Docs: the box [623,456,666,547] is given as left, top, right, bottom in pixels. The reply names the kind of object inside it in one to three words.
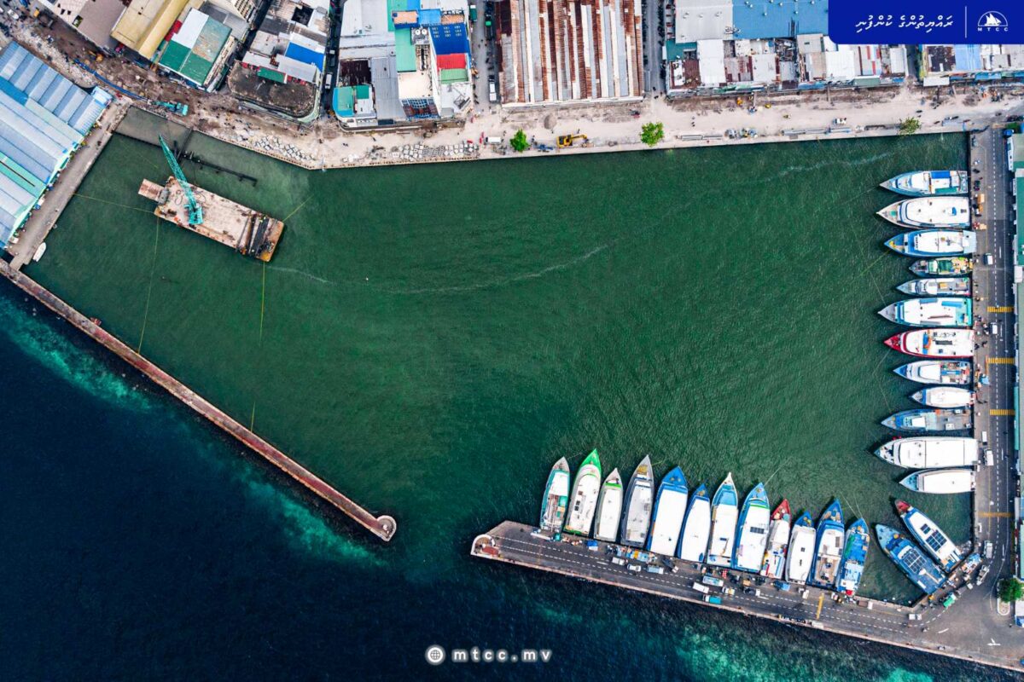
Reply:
boat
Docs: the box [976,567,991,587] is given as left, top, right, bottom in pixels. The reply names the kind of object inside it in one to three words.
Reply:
vehicle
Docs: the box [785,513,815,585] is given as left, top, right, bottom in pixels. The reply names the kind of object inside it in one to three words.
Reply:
boat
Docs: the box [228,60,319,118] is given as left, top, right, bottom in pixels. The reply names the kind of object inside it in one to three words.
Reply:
building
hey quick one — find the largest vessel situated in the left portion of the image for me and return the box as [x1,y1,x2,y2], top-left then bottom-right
[80,176,312,350]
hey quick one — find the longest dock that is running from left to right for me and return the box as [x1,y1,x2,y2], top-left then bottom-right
[471,520,946,649]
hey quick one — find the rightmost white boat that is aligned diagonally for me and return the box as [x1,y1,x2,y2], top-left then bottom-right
[896,501,963,573]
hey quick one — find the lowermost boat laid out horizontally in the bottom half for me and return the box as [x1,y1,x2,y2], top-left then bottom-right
[900,470,977,495]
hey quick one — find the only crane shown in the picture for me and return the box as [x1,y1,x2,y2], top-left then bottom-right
[157,131,206,230]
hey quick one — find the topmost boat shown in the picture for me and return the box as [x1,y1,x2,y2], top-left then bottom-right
[857,170,969,199]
